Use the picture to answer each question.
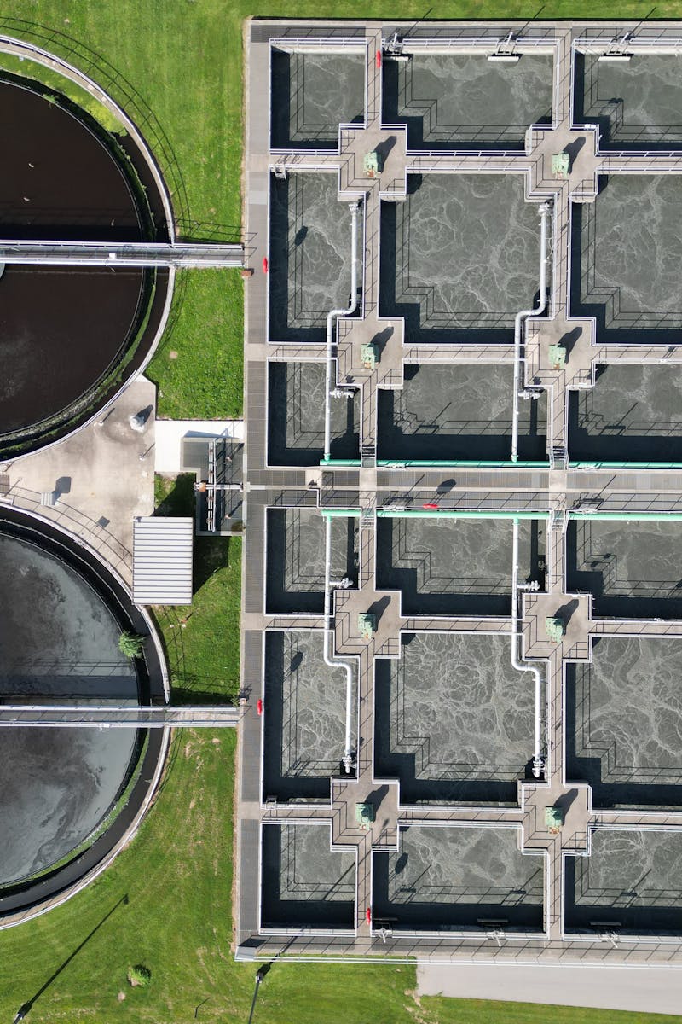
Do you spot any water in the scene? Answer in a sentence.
Yes, water can be seen from above here.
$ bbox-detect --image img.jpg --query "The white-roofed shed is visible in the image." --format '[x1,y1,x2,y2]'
[134,516,197,605]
